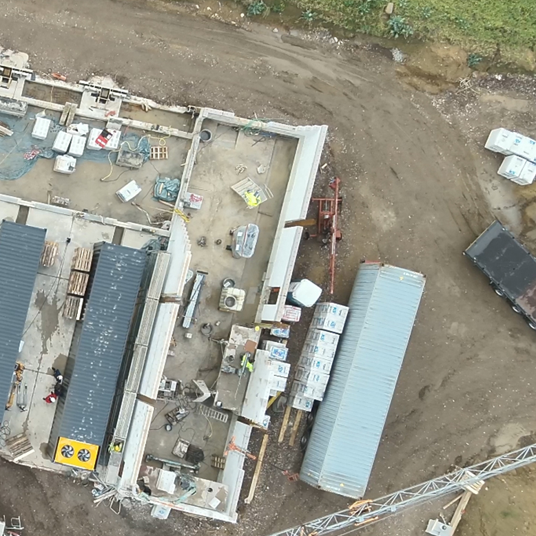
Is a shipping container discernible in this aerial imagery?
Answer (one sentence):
Yes, there's a shipping container here.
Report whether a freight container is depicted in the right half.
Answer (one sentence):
Yes, looking in the right half, one can make out a freight container.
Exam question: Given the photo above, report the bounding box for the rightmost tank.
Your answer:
[285,279,322,308]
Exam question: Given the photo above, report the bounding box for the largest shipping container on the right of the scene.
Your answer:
[302,266,422,496]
